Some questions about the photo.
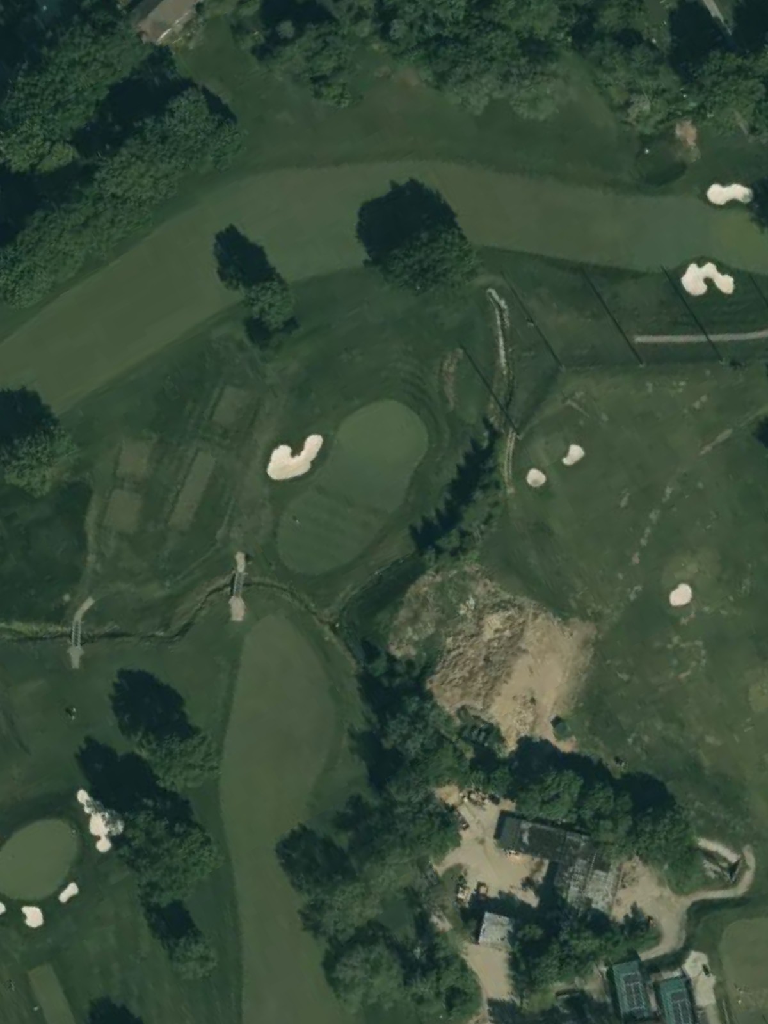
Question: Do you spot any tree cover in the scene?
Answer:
Yes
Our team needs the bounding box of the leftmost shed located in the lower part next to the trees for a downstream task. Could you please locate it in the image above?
[478,911,515,950]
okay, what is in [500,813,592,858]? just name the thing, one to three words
shed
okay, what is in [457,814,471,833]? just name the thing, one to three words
vehicle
